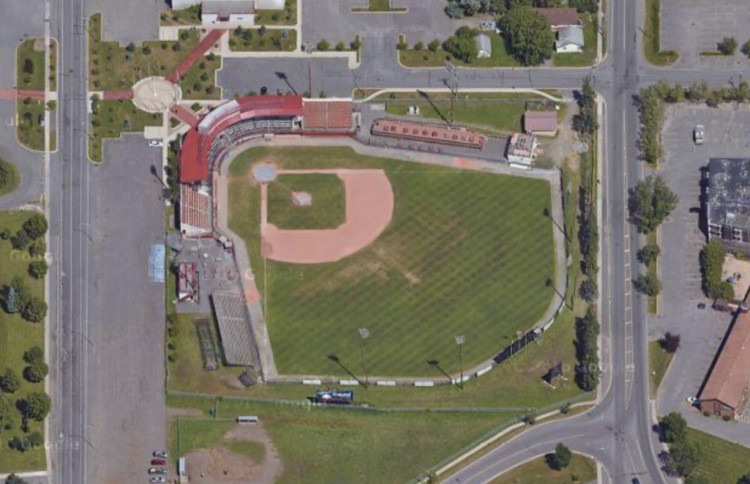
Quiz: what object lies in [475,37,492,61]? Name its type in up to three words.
shed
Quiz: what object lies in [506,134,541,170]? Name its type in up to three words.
building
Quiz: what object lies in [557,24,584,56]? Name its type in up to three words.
house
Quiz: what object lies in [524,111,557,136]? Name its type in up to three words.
building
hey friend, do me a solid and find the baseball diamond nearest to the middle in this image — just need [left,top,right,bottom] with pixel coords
[212,136,568,381]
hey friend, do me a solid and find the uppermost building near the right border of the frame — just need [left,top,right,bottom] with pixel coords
[705,158,750,239]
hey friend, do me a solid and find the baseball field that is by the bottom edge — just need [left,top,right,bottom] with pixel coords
[179,409,521,484]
